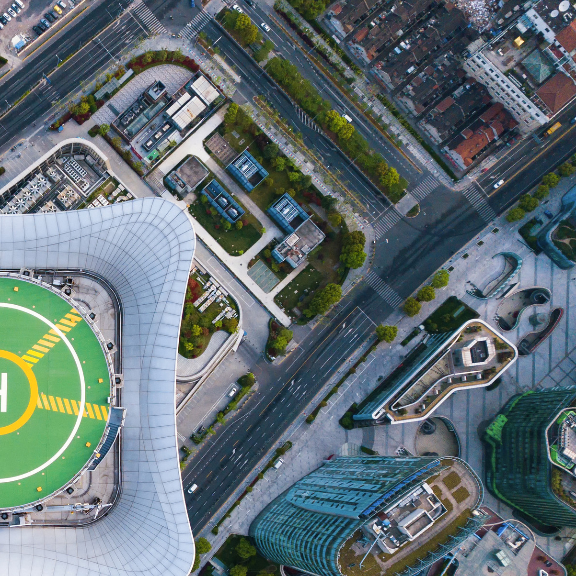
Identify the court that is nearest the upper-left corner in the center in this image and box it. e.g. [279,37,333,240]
[248,259,280,292]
